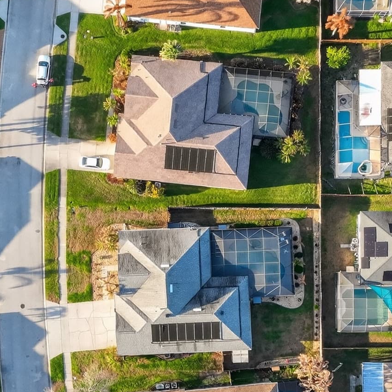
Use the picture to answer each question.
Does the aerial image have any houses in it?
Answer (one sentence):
Yes, the picture does show a house.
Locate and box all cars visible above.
[78,155,111,170]
[35,55,52,88]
